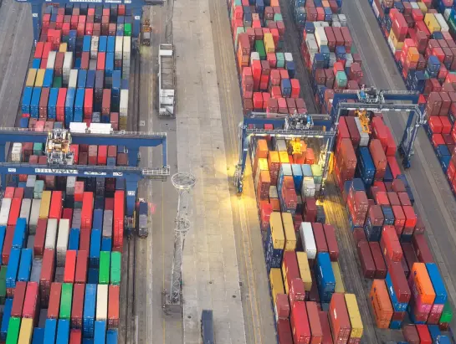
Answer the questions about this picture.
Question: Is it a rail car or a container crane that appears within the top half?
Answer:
container crane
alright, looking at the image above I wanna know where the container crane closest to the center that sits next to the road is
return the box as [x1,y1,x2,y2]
[233,106,340,192]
